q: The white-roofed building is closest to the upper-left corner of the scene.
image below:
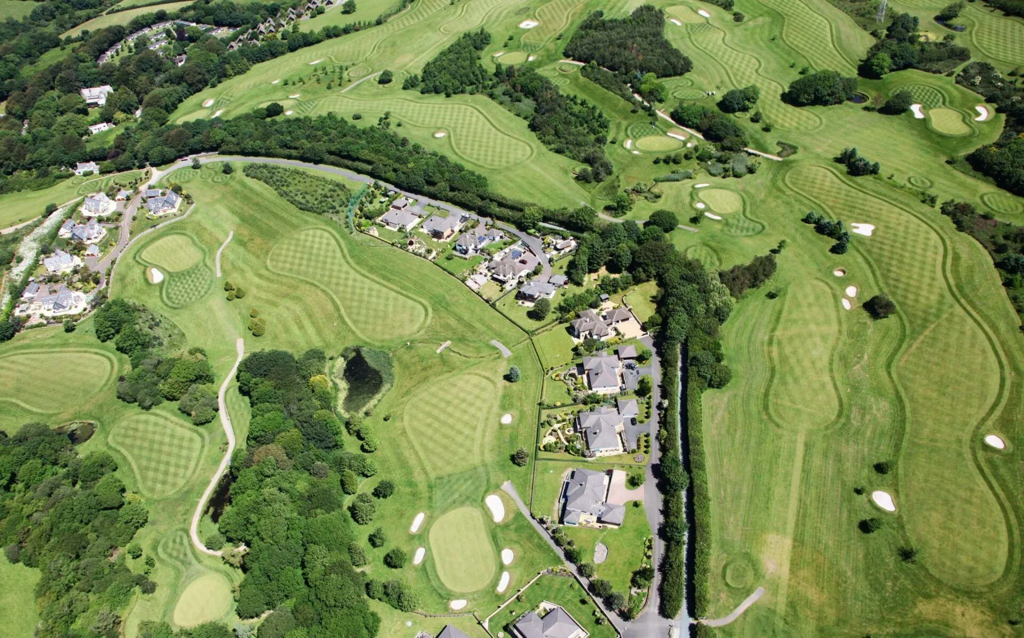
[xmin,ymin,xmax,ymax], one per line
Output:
[80,87,114,106]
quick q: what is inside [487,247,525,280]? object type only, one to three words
house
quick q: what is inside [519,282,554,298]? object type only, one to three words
house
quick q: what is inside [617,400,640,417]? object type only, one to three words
building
